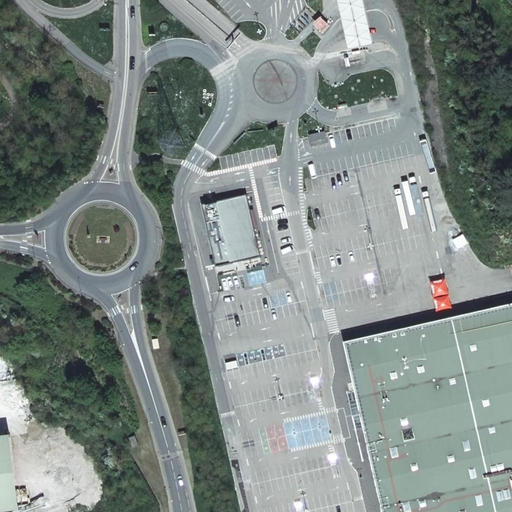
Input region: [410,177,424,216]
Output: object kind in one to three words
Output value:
vehicle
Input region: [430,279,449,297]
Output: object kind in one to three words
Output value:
gazebo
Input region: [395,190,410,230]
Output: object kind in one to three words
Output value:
vehicle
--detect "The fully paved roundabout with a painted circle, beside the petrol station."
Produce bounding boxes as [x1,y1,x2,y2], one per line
[236,41,316,121]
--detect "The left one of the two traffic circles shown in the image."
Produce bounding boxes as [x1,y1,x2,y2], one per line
[44,181,161,295]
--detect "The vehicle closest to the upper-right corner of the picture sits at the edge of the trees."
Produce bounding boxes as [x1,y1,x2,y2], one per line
[420,138,436,173]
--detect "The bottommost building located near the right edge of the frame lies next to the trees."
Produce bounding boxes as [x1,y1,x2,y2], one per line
[344,304,512,512]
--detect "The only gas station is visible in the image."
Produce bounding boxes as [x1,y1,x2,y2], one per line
[338,0,373,48]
